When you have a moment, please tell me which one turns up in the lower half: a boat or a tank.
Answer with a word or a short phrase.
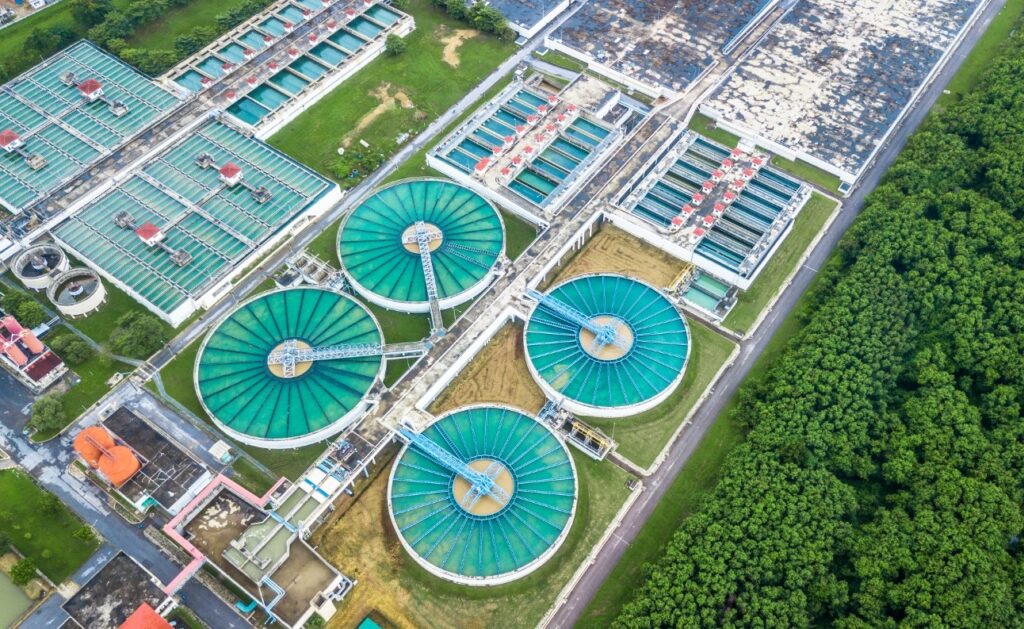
tank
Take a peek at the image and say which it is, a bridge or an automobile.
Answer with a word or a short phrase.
bridge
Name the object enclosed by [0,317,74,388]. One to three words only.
house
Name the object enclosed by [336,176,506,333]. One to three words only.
storage tank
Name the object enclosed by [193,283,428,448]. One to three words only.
storage tank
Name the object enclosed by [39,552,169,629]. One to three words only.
building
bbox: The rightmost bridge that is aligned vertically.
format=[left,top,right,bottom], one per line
[403,220,441,302]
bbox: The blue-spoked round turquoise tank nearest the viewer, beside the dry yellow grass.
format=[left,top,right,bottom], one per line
[387,403,578,584]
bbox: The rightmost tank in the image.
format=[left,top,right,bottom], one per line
[523,270,692,417]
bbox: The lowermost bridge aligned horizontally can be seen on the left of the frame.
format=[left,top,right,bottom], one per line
[267,338,386,376]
